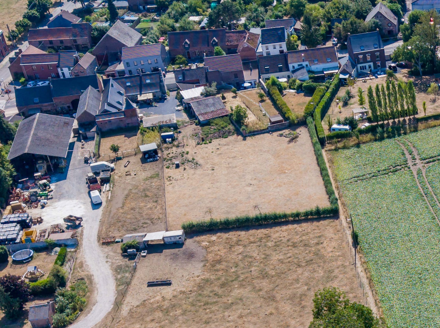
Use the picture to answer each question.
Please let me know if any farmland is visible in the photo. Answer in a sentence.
Yes, farmland shows up in the scene.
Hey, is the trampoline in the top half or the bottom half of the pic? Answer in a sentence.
It is in the bottom half that the trampoline appears.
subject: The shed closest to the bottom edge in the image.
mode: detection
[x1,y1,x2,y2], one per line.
[28,299,53,328]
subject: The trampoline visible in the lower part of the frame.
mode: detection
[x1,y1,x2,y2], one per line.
[10,242,33,265]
